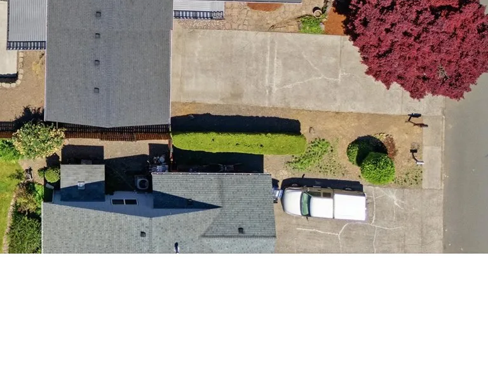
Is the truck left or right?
right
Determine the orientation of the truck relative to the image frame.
horizontally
